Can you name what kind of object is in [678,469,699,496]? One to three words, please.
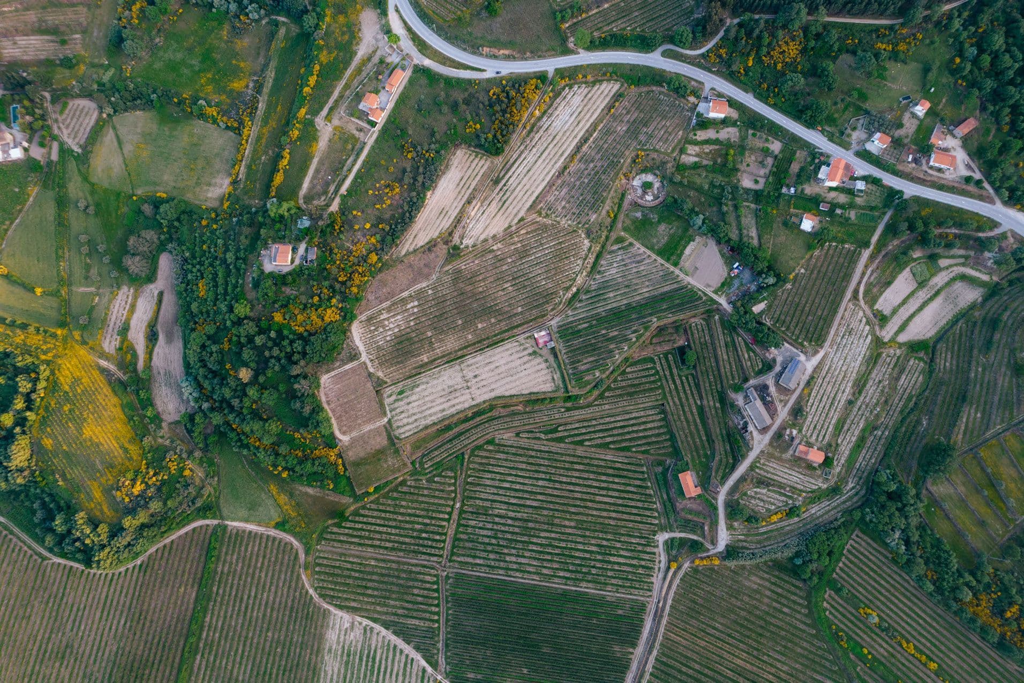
house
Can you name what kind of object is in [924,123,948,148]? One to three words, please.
barn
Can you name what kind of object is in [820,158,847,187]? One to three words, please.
house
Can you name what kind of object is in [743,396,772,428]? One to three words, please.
barn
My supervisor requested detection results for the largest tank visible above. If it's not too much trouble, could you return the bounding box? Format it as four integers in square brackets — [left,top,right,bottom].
[626,169,667,210]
